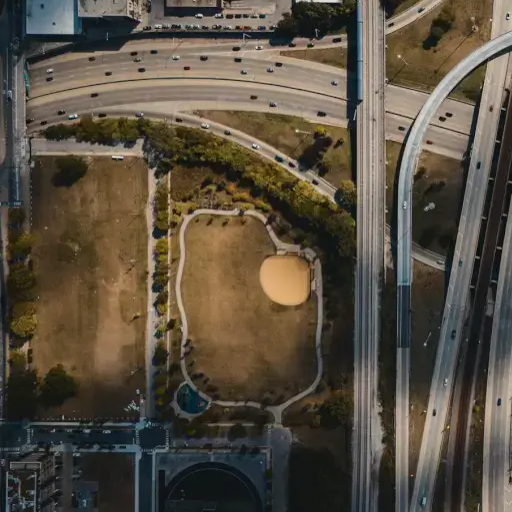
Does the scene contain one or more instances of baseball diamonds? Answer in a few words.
Yes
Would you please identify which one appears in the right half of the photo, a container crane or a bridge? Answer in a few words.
bridge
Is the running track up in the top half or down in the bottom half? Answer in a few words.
bottom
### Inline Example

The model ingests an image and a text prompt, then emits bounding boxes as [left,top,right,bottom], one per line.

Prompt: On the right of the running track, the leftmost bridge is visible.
[351,0,387,512]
